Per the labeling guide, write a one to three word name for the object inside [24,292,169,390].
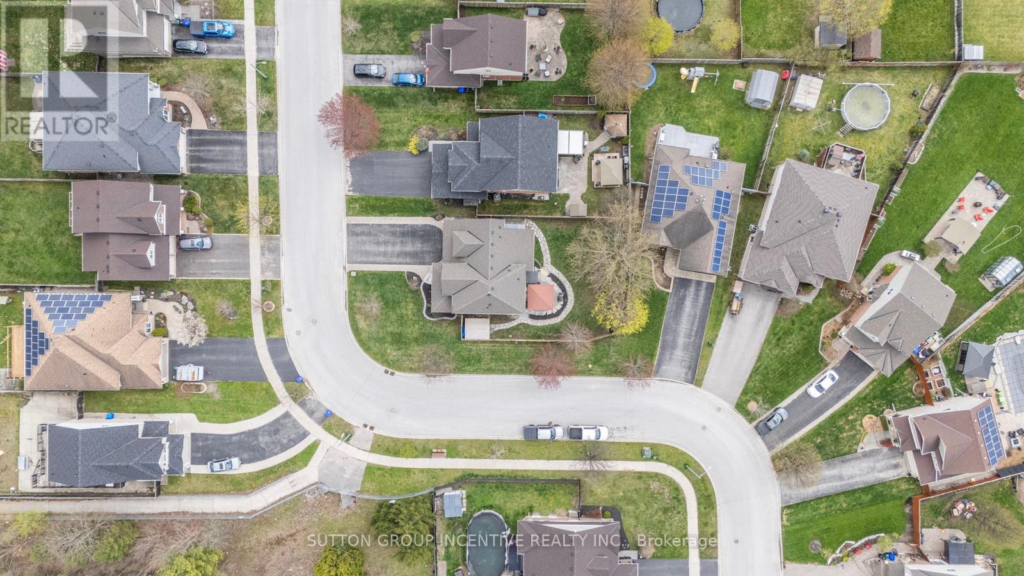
house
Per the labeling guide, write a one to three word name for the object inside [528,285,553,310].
gazebo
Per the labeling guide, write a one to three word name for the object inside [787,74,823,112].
shed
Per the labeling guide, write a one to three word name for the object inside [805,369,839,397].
car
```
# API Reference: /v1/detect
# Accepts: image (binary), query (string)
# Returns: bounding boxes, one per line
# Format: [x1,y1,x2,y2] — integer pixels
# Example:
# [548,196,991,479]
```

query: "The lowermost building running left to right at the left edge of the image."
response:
[47,420,189,488]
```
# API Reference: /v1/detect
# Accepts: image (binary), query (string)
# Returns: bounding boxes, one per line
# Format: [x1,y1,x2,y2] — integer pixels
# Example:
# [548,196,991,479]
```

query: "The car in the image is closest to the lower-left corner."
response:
[207,456,242,473]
